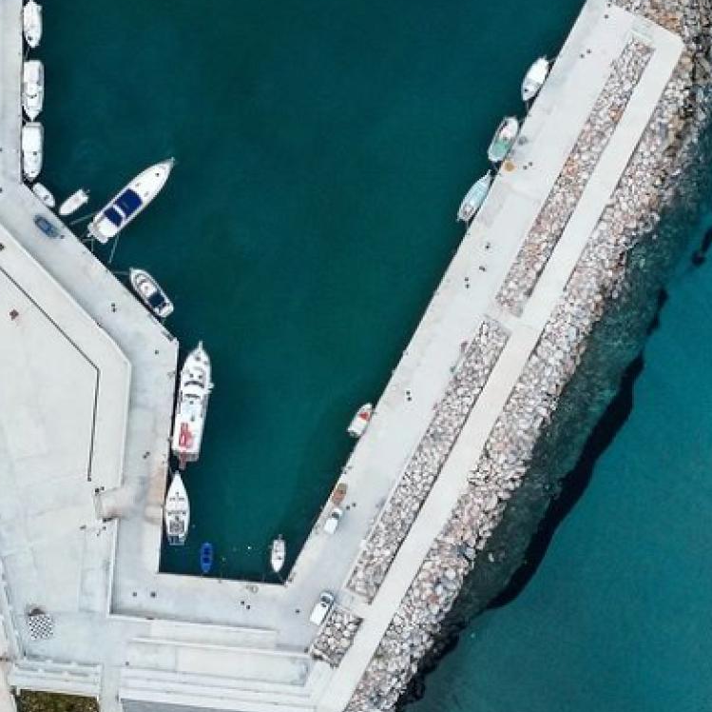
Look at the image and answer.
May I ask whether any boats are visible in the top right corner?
Yes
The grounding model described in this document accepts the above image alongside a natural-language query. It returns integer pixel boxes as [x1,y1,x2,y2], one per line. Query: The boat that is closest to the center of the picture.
[347,404,372,441]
